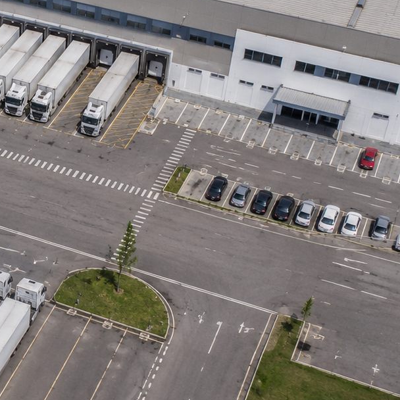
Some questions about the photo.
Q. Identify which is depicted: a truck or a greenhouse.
truck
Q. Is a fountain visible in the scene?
No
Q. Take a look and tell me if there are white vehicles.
Yes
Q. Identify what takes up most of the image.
paved ground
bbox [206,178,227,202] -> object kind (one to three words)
car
